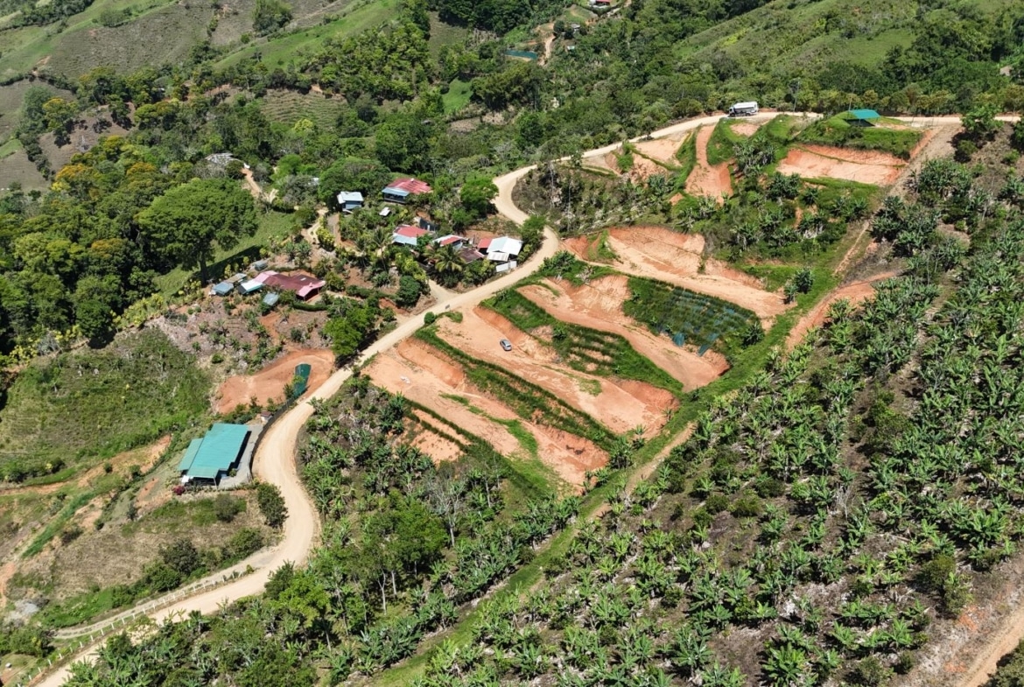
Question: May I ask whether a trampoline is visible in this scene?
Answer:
No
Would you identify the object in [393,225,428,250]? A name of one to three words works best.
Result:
house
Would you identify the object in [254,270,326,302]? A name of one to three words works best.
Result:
house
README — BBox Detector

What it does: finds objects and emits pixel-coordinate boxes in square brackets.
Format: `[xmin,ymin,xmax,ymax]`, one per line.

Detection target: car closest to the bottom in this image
[499,337,513,349]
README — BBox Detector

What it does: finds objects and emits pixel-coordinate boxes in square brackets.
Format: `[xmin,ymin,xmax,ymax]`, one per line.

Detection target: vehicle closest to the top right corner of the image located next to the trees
[729,104,758,117]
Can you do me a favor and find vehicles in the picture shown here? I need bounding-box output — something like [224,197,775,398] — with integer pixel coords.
[499,337,513,349]
[729,104,758,117]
